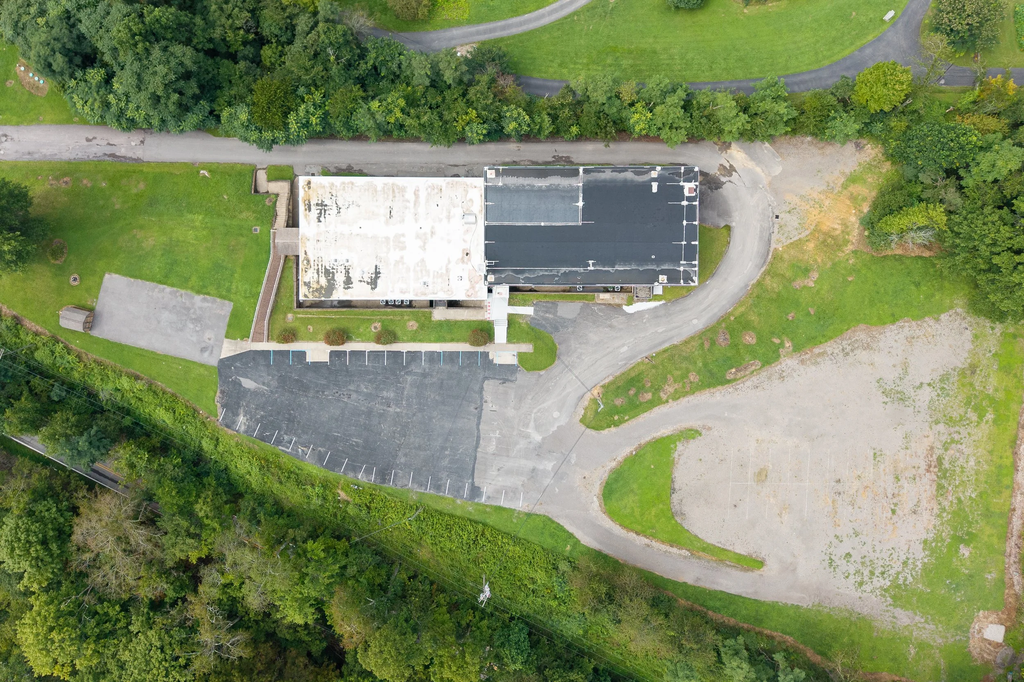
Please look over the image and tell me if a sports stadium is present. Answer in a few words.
No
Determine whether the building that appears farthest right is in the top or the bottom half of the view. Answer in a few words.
top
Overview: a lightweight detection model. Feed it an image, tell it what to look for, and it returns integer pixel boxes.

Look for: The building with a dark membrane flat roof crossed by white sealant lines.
[483,165,700,287]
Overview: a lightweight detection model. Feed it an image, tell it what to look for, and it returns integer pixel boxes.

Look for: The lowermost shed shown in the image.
[57,308,97,333]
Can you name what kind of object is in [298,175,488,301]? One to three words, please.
building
